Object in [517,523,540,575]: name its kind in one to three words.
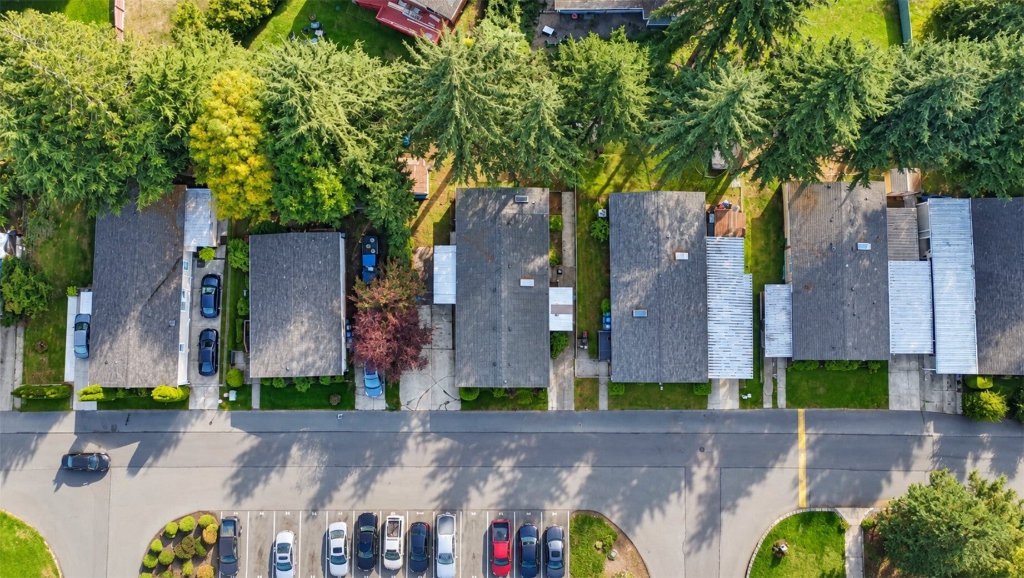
car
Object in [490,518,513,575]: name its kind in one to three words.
truck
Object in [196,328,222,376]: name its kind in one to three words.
car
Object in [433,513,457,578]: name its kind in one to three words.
truck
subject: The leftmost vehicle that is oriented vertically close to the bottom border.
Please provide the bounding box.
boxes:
[216,515,243,574]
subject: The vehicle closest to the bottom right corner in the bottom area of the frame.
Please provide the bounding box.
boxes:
[543,525,566,576]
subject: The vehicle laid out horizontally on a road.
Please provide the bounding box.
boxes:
[62,451,114,473]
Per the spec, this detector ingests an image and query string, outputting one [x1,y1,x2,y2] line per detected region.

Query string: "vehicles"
[407,522,430,572]
[272,529,296,578]
[198,274,224,318]
[362,361,384,401]
[517,523,540,575]
[69,312,90,358]
[490,518,513,575]
[325,522,349,573]
[216,515,243,574]
[355,513,379,567]
[543,525,566,576]
[358,232,381,286]
[433,513,457,578]
[382,513,405,570]
[62,451,114,473]
[196,328,222,376]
